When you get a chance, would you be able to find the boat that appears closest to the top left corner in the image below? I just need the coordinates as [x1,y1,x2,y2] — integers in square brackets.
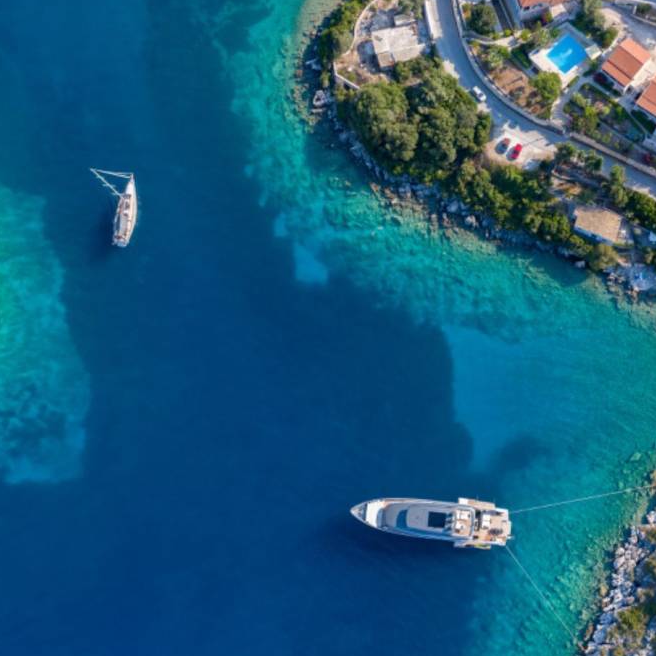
[90,171,137,247]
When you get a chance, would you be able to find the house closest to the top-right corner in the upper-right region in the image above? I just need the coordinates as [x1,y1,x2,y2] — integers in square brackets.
[600,38,651,90]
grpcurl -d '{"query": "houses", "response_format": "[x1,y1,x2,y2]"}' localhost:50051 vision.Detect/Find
[634,77,656,122]
[574,208,621,243]
[372,15,425,70]
[600,38,651,90]
[515,0,567,23]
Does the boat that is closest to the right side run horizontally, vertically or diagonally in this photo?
horizontally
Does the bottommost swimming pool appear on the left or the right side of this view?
right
